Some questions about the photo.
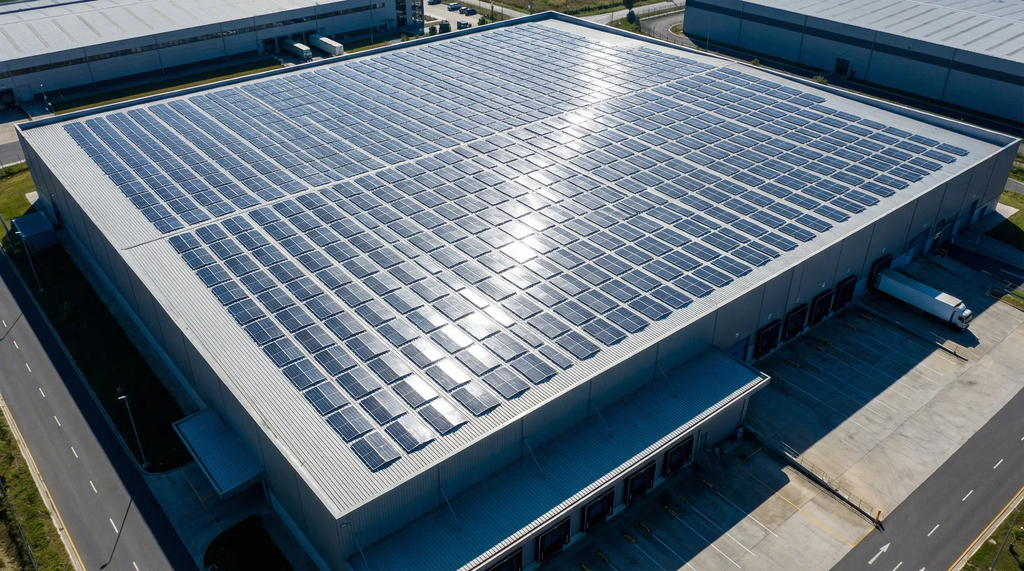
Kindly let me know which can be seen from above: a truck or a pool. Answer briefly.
truck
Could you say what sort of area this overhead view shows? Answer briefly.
industrial area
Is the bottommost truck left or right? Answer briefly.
right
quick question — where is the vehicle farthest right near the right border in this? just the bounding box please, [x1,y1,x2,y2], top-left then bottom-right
[871,266,974,335]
